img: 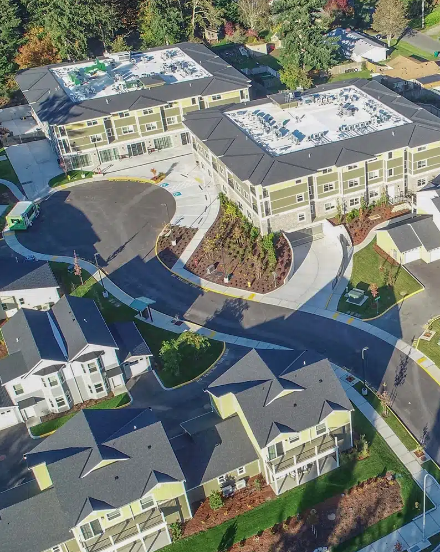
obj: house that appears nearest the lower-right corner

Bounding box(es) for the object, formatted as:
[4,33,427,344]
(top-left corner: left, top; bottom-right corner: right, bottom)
[167,346,355,505]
